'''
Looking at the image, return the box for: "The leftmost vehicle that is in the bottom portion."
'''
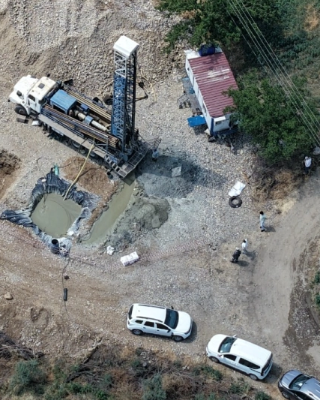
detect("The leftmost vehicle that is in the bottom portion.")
[126,301,198,344]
